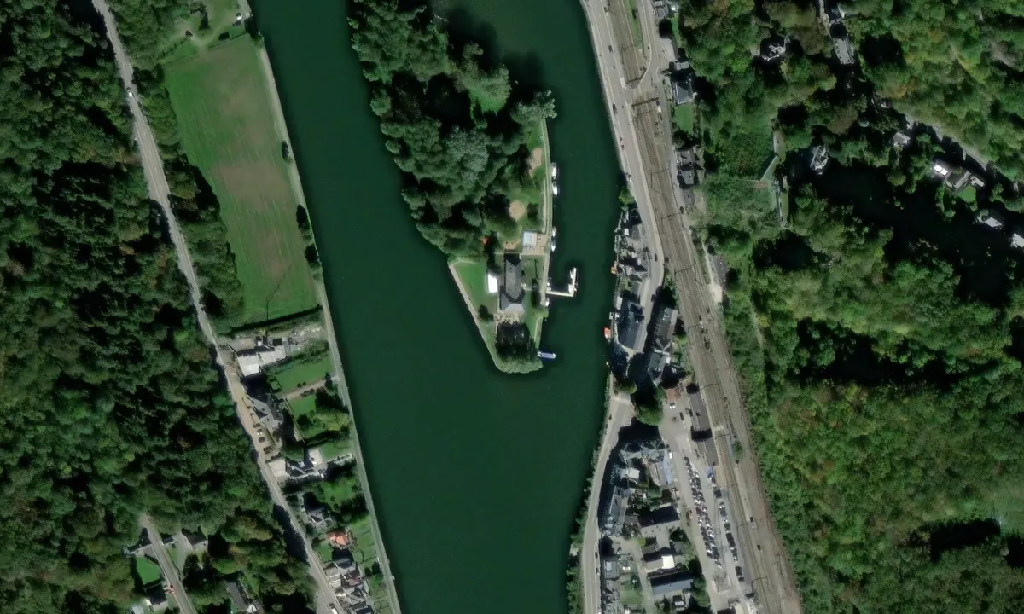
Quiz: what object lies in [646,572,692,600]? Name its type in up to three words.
building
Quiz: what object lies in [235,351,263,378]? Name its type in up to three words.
barn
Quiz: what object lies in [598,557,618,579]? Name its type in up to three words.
house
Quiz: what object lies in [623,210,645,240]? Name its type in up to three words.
house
